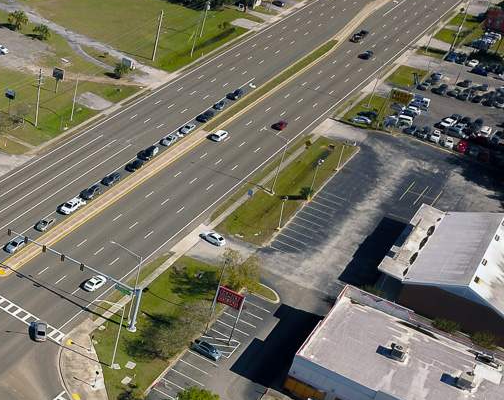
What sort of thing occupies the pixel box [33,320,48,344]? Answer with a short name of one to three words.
car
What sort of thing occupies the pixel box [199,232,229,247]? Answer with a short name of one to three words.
car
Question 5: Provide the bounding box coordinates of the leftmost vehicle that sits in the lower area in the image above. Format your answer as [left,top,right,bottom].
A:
[3,236,27,254]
